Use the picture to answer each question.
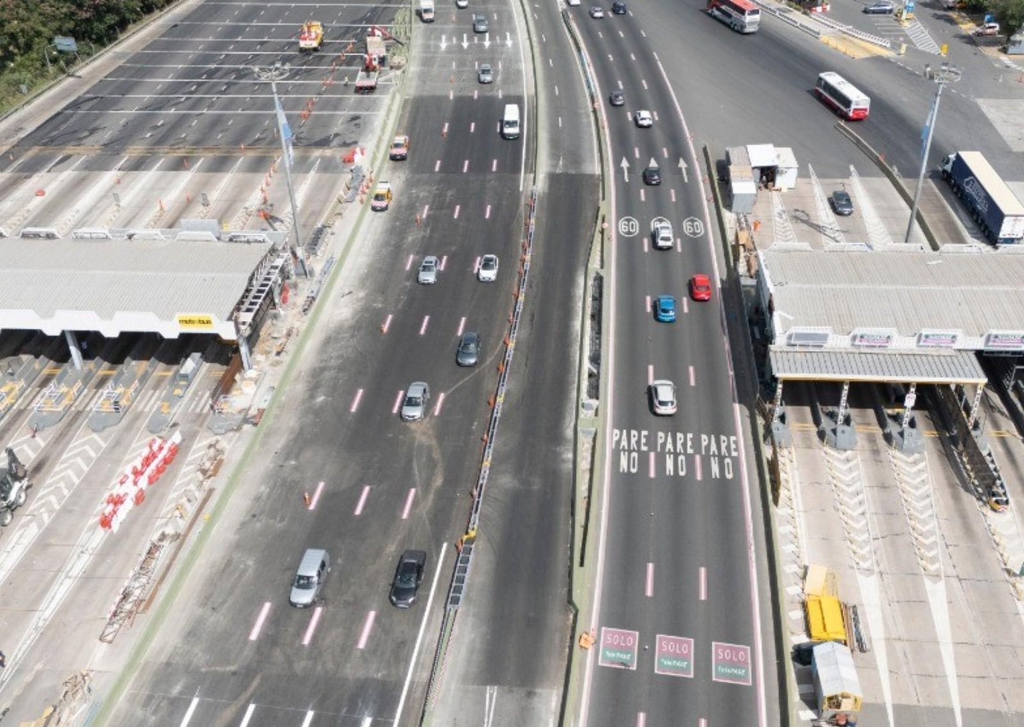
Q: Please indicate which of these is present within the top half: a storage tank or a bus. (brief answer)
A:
bus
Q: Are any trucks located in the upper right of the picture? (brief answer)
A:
Yes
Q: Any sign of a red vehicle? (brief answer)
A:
Yes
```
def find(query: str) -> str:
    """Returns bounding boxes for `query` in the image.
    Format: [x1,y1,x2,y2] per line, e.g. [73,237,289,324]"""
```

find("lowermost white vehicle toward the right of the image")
[652,374,680,412]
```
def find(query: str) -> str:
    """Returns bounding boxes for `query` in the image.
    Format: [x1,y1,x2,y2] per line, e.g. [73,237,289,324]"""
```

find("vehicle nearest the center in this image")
[457,329,484,364]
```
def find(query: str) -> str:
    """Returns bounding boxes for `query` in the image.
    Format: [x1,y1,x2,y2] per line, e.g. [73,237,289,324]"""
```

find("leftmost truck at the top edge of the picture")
[299,12,330,48]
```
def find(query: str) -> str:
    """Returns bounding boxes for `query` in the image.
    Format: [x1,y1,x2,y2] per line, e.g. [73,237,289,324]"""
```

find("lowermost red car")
[690,272,713,298]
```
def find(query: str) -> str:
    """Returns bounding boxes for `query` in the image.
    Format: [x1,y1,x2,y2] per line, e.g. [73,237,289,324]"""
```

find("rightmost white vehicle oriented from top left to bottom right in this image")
[947,148,1024,247]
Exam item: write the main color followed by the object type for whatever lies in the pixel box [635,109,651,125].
white car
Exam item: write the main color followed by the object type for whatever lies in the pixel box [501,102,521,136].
white vehicle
